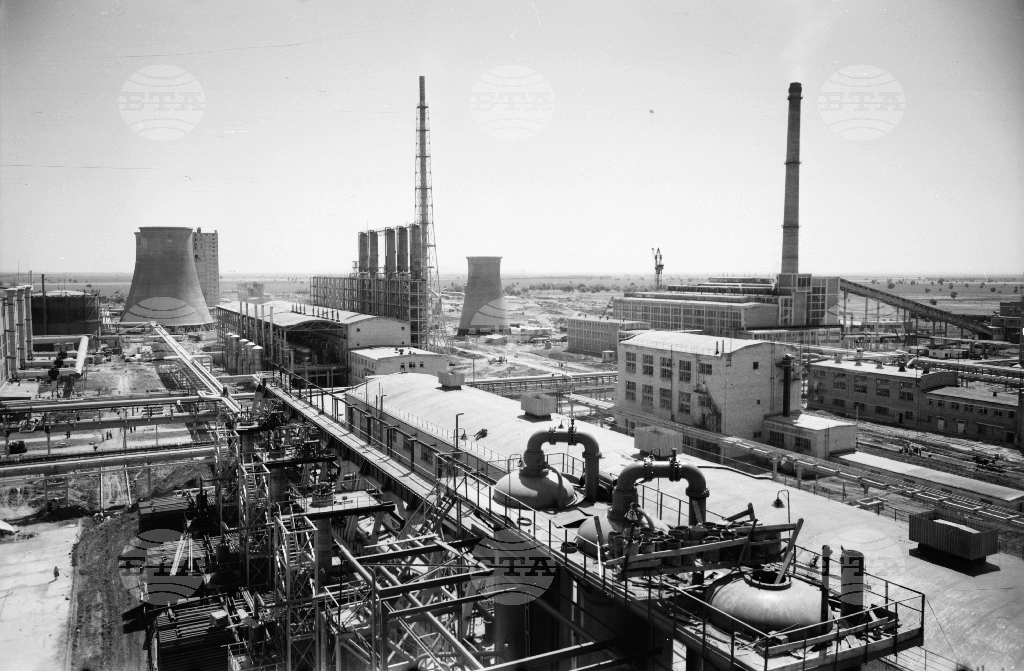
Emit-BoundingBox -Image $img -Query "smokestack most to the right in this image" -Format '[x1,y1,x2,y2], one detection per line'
[777,81,801,273]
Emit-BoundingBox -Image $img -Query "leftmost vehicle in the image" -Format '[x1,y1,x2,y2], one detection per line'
[8,437,30,453]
